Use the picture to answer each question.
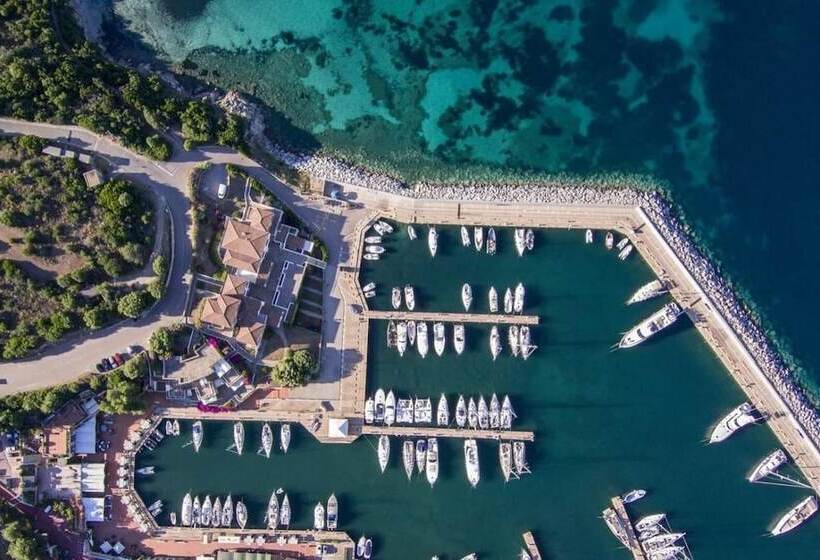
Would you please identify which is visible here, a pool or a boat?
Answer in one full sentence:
The image shows a boat.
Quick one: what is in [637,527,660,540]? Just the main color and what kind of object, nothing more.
white boat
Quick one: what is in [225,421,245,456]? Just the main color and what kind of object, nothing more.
white boat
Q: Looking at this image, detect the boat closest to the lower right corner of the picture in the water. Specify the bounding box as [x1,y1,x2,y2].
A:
[774,493,819,537]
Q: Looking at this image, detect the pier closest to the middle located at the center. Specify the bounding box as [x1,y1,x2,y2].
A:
[368,311,539,324]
